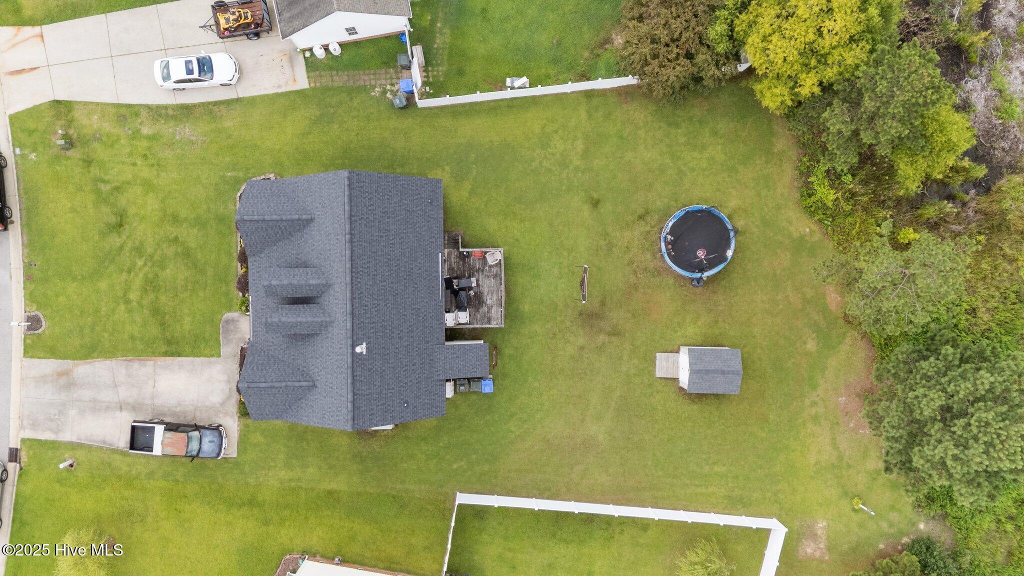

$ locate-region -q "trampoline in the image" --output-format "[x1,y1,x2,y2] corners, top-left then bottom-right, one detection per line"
[657,202,738,279]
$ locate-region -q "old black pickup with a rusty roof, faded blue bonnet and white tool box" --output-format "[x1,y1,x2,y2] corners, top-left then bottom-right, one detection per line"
[129,419,229,463]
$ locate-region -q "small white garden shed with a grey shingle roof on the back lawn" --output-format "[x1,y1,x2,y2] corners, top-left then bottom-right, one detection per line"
[680,346,742,394]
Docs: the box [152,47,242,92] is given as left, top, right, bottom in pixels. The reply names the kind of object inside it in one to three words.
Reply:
car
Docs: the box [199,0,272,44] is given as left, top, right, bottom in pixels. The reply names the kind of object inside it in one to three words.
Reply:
trailer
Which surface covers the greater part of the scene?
grass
